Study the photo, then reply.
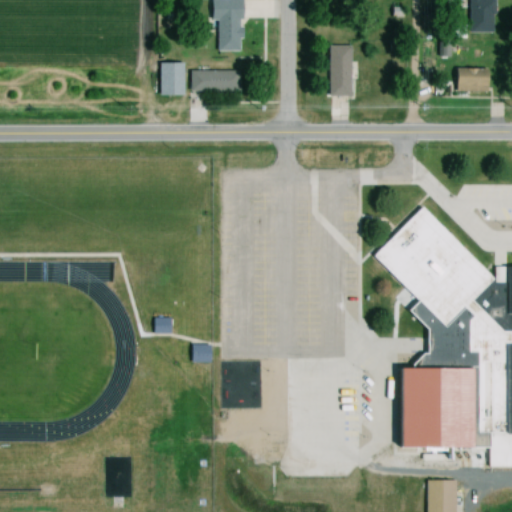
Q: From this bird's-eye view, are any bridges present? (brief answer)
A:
No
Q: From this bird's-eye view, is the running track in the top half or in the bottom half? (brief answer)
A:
bottom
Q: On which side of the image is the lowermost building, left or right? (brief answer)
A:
right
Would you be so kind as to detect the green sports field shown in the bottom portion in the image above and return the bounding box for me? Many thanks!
[0,281,116,422]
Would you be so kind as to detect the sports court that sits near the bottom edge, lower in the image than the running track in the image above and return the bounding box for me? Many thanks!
[106,457,132,508]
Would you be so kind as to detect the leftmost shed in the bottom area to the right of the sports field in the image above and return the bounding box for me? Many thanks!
[154,316,172,333]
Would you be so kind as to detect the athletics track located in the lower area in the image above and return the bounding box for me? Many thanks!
[0,262,136,441]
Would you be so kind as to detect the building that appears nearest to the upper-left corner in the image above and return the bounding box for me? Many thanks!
[160,62,186,96]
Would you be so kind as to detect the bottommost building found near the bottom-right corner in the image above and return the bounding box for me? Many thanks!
[428,480,458,512]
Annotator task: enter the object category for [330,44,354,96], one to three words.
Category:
house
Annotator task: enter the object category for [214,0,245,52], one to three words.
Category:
house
